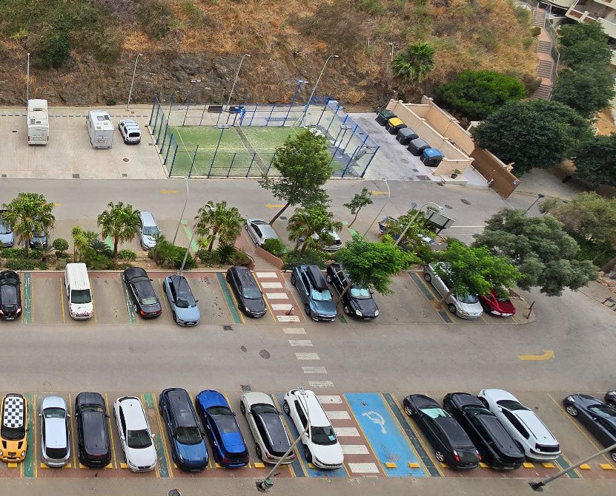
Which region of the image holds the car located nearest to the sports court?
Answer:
top left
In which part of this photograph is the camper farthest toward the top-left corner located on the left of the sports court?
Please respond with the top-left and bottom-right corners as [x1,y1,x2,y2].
[27,96,50,145]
